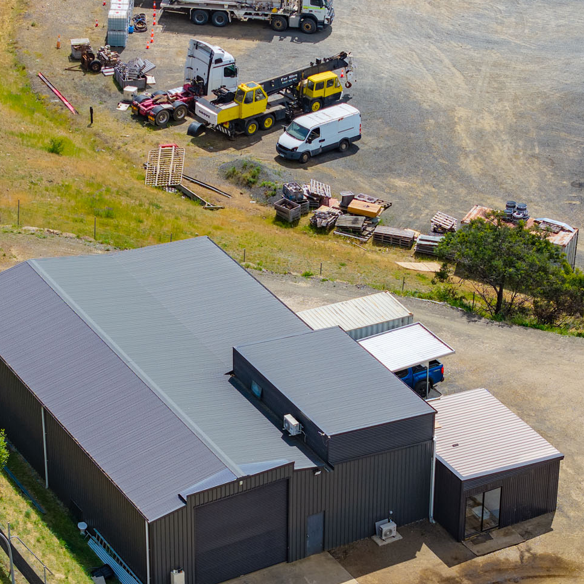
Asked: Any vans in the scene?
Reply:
Yes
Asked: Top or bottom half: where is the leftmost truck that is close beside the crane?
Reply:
top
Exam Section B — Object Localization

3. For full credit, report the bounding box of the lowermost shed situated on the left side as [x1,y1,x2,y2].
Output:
[0,238,440,584]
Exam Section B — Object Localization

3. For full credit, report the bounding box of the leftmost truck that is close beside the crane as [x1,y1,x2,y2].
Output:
[126,36,238,126]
